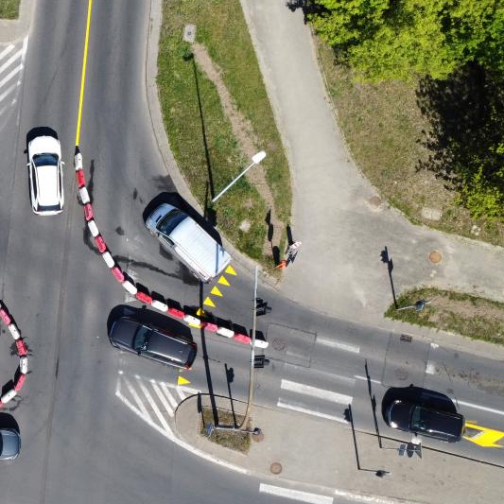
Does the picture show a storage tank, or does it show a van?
van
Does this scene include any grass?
Yes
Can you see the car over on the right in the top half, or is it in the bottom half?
bottom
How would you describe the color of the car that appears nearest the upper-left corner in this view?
white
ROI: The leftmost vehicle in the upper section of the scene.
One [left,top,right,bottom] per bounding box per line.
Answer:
[23,137,66,216]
